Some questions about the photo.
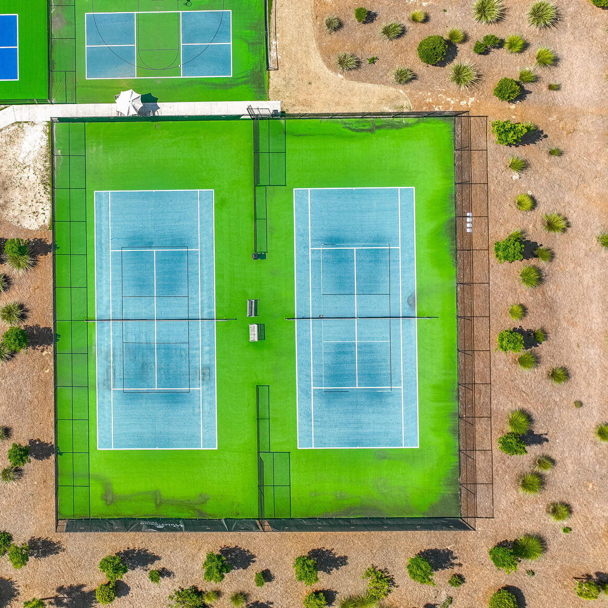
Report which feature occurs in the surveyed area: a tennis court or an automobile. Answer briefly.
tennis court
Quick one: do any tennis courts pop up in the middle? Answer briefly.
Yes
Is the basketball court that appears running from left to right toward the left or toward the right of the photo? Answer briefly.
left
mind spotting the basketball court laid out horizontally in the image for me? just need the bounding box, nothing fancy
[50,0,268,104]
